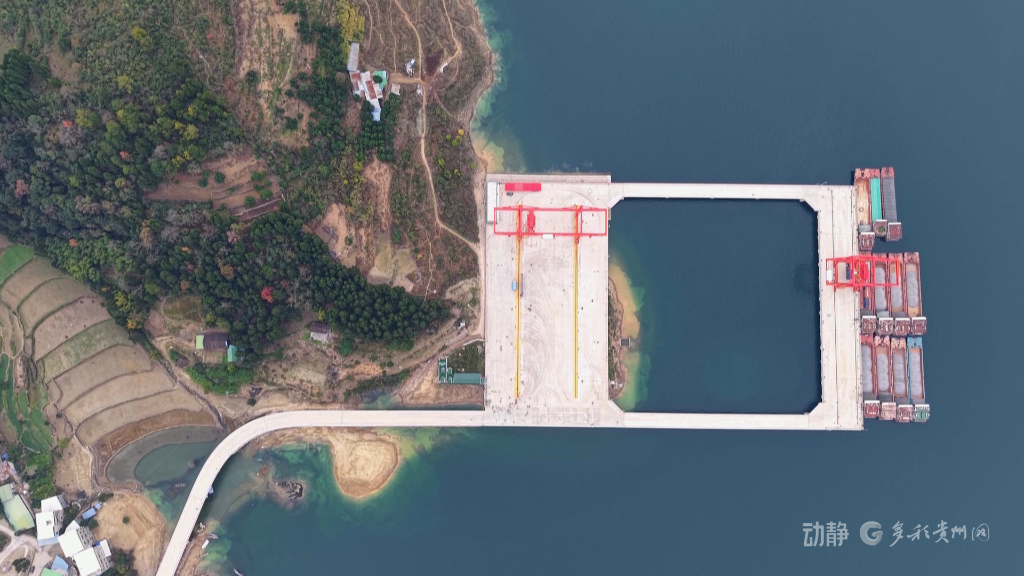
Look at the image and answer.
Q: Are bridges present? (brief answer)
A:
Yes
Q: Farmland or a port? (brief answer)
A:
port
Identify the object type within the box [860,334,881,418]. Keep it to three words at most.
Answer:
ship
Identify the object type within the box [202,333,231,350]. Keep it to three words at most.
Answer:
house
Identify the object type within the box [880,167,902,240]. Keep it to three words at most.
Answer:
ship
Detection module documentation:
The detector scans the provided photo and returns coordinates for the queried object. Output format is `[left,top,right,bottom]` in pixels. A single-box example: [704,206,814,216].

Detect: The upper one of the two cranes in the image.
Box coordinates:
[494,202,607,246]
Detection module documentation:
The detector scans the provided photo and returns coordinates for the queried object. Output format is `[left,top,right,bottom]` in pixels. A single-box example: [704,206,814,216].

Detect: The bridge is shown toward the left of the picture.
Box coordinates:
[156,409,484,576]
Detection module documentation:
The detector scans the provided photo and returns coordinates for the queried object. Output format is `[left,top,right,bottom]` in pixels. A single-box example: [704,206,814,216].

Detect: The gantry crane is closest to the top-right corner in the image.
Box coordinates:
[825,255,901,295]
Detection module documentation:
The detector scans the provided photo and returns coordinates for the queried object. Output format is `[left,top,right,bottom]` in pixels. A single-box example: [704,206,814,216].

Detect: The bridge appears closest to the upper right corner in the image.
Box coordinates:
[624,183,803,201]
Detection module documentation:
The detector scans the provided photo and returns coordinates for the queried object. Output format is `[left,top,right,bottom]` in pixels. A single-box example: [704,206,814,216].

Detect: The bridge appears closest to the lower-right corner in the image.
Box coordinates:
[624,413,809,429]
